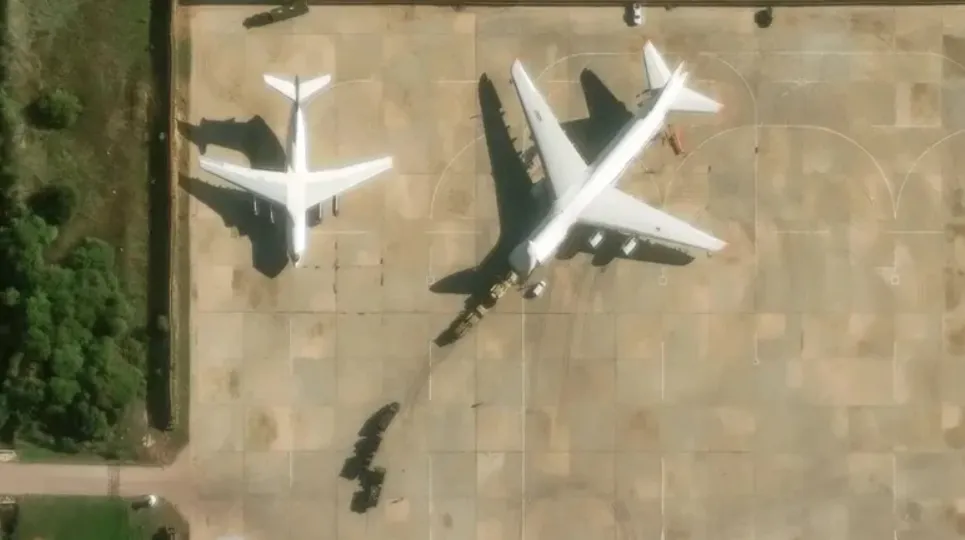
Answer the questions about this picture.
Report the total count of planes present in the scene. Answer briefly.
2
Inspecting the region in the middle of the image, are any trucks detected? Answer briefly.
Yes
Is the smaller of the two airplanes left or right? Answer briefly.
left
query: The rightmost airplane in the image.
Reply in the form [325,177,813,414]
[510,41,728,281]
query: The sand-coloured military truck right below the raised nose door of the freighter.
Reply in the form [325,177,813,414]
[489,266,524,304]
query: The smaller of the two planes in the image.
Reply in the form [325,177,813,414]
[199,74,392,266]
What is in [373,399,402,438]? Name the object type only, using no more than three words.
truck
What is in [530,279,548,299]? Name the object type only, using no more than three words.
vehicle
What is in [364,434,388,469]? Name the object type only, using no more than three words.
truck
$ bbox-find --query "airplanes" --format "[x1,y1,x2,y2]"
[199,74,392,266]
[510,41,728,281]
